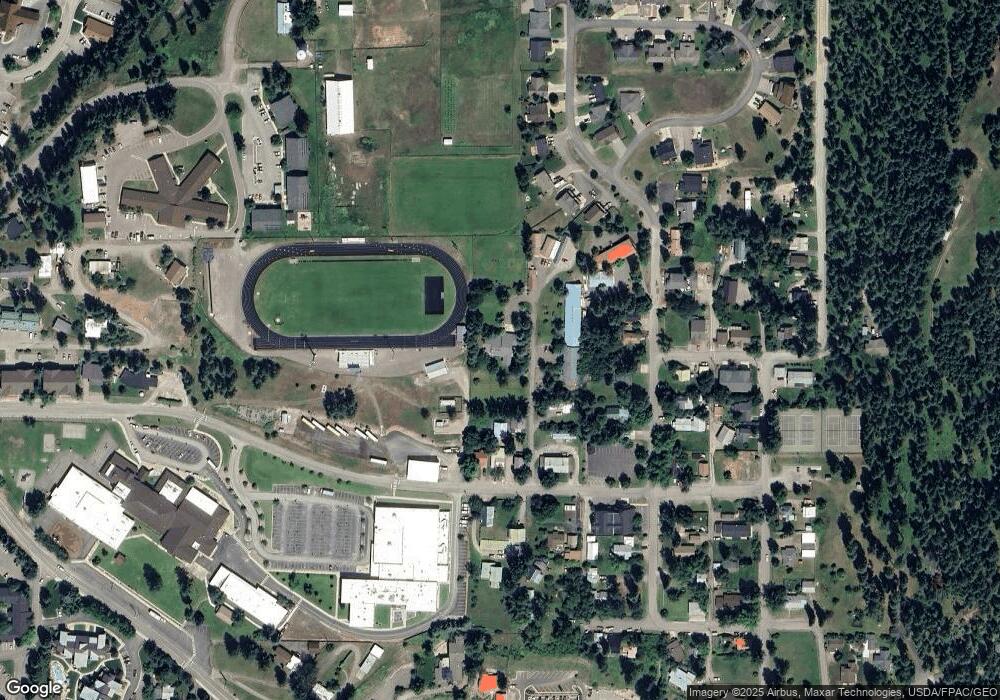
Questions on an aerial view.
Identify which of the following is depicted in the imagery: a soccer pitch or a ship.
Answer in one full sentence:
The image shows a soccer pitch.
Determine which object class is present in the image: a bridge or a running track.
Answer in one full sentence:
It is a running track that can be seen here.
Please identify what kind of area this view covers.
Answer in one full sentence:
The area seen from above is a residential area.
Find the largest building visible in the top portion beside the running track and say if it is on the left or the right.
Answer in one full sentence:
It is on the left.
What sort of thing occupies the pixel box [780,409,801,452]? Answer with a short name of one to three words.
tennis court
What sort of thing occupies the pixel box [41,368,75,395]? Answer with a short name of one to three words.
building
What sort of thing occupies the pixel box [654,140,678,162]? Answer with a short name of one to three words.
house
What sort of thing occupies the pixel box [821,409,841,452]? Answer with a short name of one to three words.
tennis court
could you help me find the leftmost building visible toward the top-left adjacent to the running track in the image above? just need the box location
[117,151,229,227]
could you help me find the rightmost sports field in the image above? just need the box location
[388,157,520,236]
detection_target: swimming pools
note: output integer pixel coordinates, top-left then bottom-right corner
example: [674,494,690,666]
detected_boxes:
[50,660,64,681]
